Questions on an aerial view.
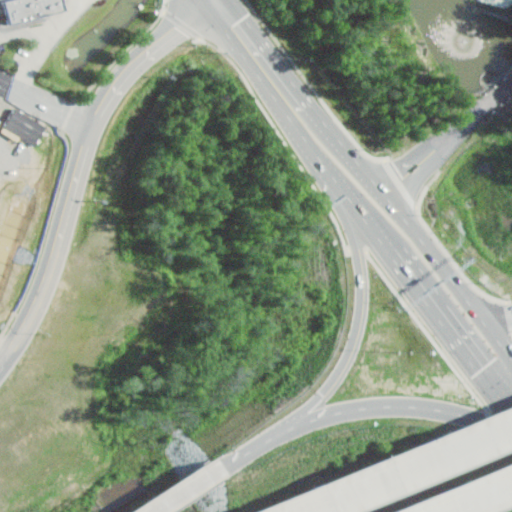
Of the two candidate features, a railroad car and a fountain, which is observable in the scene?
fountain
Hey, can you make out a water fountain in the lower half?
No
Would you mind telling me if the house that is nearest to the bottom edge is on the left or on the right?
left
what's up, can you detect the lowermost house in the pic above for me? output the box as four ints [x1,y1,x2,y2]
[4,108,45,146]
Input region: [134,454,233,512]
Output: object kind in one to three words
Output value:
bridge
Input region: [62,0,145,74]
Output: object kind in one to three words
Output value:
pond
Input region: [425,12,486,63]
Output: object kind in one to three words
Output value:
fountain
